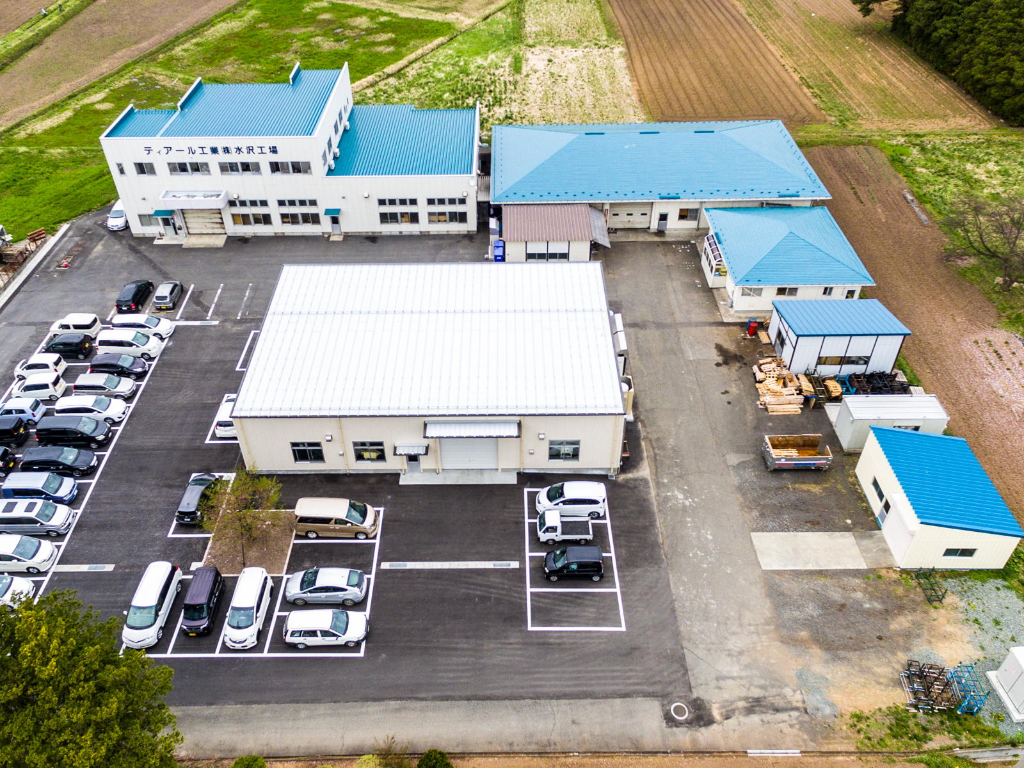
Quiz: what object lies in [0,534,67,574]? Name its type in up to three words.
car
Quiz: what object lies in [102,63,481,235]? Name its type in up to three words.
building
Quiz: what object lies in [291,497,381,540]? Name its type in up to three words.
car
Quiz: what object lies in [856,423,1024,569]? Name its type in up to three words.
shed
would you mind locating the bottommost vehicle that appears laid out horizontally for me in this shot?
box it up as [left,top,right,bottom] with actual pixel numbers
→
[278,607,373,649]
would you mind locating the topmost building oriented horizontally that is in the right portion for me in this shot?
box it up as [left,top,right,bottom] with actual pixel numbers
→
[491,121,832,230]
